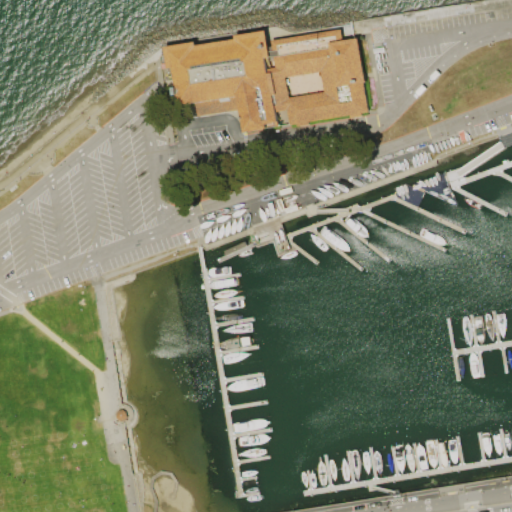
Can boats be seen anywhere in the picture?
Yes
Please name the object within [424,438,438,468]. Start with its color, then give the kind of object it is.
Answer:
white boat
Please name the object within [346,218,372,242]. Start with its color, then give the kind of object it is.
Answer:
white boat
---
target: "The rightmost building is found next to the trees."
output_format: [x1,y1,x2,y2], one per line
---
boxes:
[268,28,370,126]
